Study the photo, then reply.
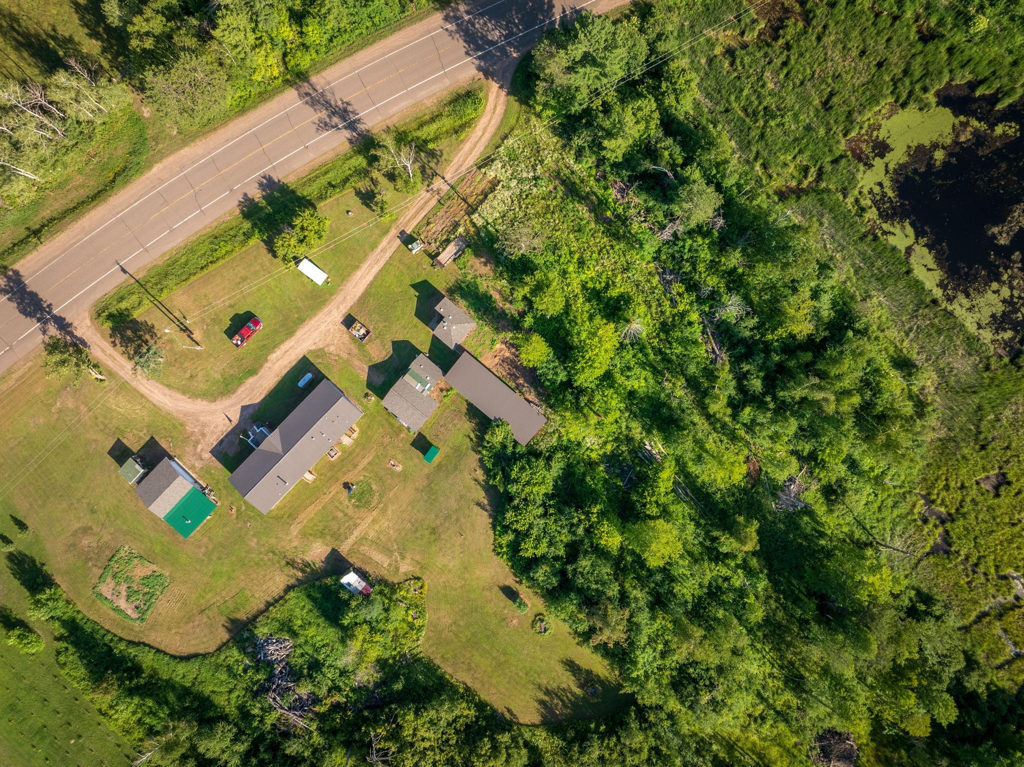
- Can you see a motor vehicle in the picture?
Yes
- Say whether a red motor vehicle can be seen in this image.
Yes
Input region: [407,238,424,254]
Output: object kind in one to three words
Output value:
vehicle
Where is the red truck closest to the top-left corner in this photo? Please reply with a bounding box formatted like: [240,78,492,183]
[230,317,265,349]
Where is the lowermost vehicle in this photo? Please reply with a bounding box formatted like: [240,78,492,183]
[340,567,370,596]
